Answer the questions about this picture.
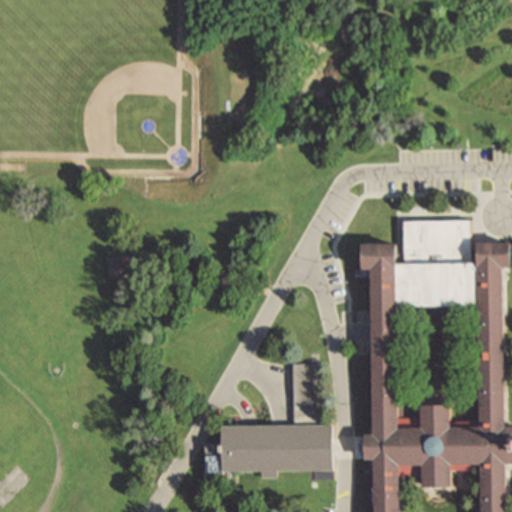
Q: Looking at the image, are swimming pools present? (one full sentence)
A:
No, no swimming pool is visible in the view.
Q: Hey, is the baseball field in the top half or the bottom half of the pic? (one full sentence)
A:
It is in the top half that the baseball field appears.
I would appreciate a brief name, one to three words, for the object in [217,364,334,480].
building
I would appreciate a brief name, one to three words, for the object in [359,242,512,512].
building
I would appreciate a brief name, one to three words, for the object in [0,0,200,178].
baseball field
